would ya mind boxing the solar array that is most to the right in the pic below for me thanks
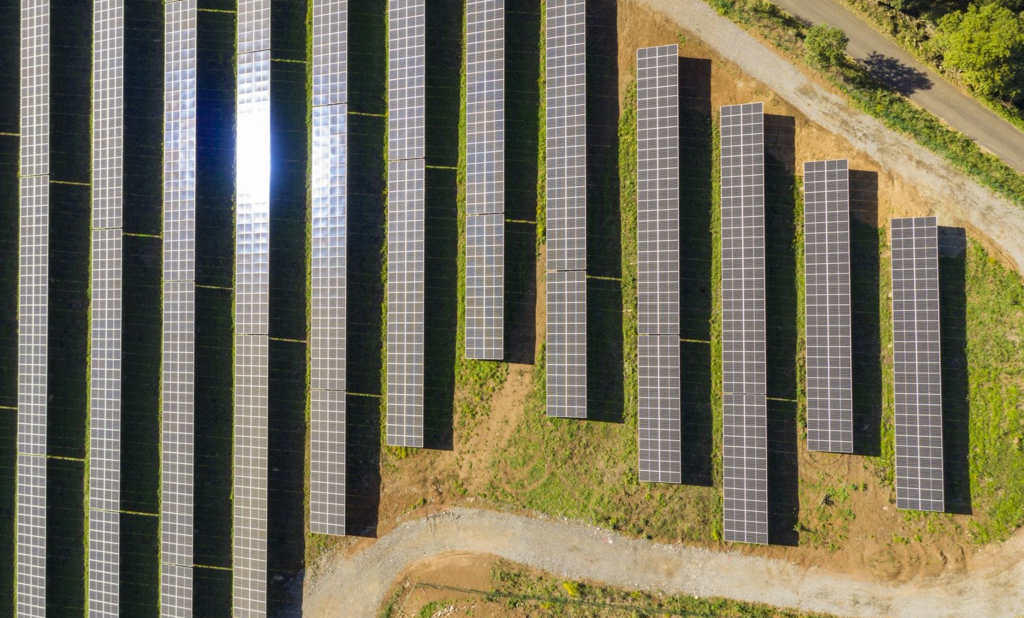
[888,216,944,512]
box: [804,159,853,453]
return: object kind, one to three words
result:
solar array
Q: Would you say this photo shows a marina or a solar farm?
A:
solar farm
